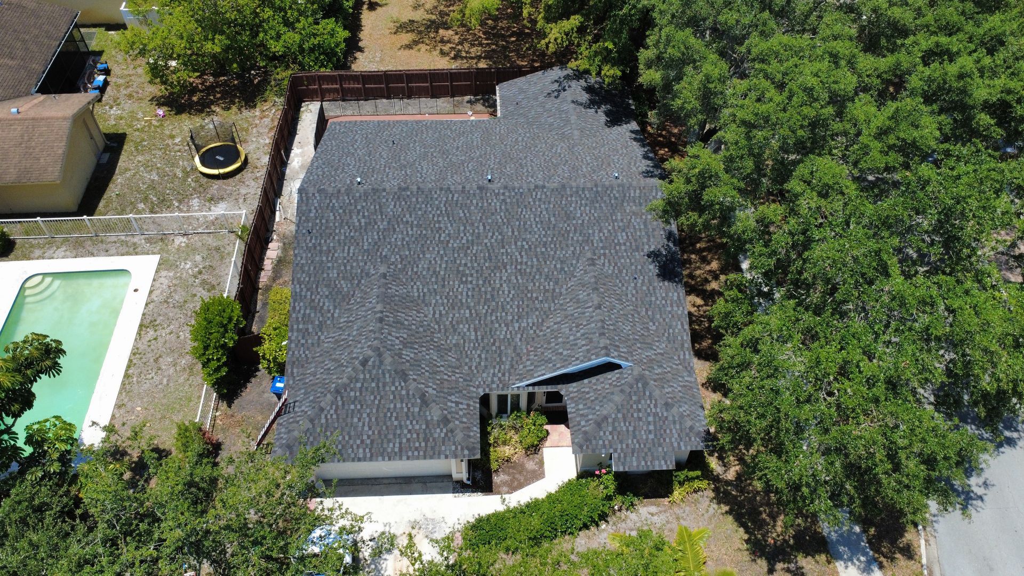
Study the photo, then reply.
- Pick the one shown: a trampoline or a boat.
trampoline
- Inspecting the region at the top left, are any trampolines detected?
Yes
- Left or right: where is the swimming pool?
left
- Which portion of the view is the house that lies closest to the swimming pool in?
top left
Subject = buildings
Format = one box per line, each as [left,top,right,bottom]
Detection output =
[0,0,114,213]
[270,63,709,496]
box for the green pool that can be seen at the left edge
[0,270,131,472]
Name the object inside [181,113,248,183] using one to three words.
trampoline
